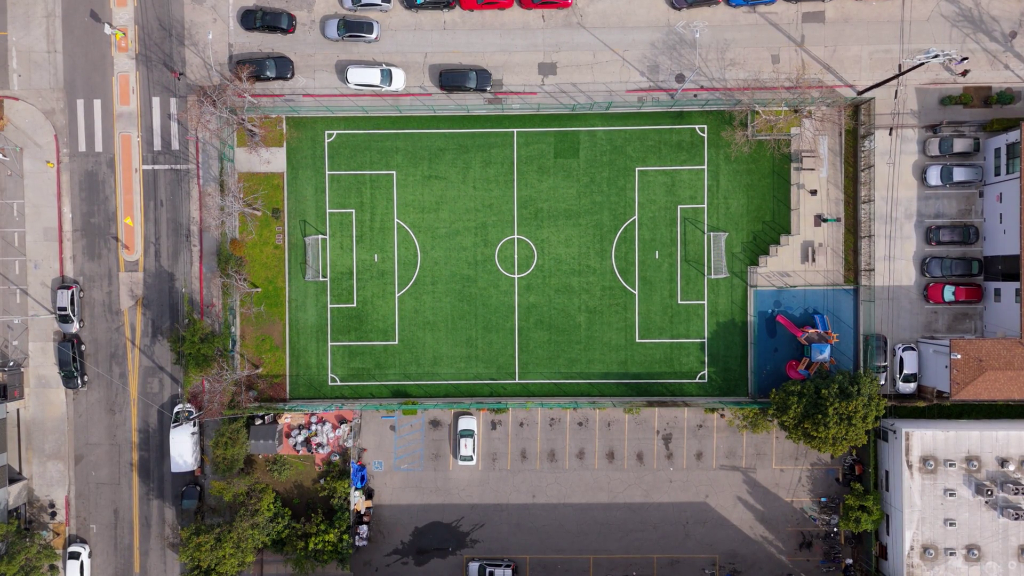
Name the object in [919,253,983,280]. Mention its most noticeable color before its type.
black car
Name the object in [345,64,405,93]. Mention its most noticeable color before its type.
white car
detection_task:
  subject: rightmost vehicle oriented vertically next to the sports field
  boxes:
[455,416,478,465]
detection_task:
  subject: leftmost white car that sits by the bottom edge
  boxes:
[66,541,94,576]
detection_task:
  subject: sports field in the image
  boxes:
[242,107,791,399]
